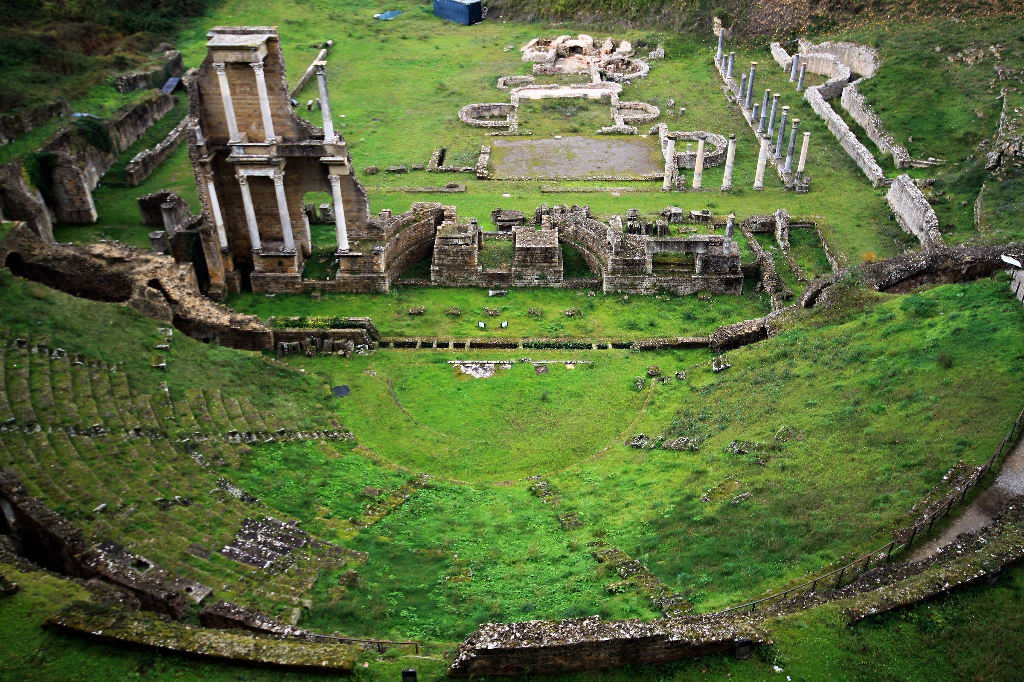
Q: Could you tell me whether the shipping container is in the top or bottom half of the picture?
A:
top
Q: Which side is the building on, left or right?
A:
left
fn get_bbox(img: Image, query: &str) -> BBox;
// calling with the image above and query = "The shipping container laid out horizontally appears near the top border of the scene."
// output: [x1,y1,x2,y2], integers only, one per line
[429,0,482,25]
